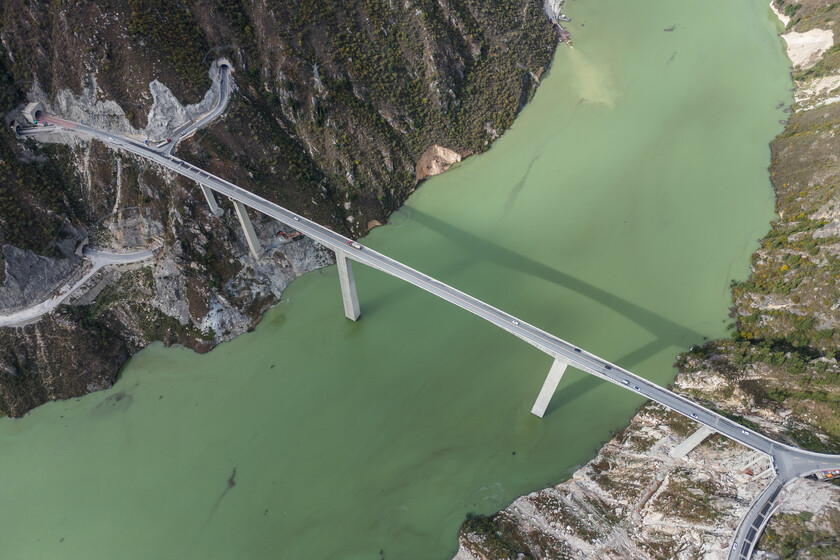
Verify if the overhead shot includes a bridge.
Yes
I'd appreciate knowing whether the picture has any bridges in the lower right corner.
Yes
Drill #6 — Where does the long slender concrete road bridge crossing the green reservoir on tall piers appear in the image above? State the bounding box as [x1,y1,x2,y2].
[150,151,766,461]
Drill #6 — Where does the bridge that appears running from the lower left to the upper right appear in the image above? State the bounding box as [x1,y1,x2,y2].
[727,473,793,560]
